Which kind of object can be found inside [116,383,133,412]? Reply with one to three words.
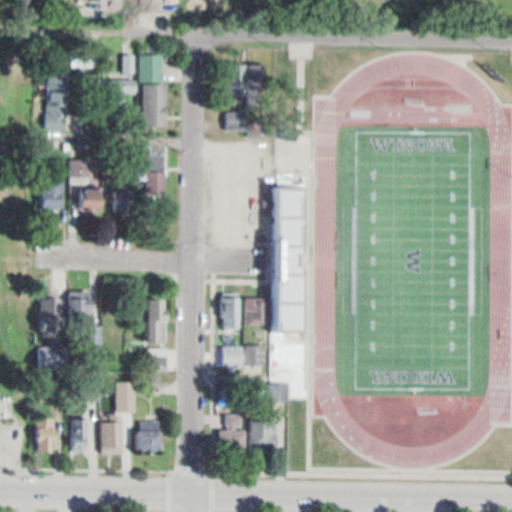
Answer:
building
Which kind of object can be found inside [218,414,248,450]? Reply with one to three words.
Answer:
house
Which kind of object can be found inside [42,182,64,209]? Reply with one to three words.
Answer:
house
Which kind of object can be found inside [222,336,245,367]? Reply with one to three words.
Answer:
building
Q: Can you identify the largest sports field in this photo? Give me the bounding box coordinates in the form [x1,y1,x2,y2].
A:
[336,127,490,395]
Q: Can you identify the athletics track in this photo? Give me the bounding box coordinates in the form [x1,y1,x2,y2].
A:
[312,52,512,468]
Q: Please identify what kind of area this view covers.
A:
sports ground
